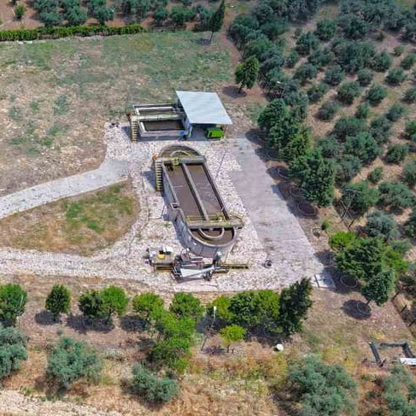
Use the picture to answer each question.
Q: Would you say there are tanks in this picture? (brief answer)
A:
Yes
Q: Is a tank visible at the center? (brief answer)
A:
Yes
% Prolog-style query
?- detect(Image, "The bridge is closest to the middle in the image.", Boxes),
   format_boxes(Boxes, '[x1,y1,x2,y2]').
[188,213,247,230]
